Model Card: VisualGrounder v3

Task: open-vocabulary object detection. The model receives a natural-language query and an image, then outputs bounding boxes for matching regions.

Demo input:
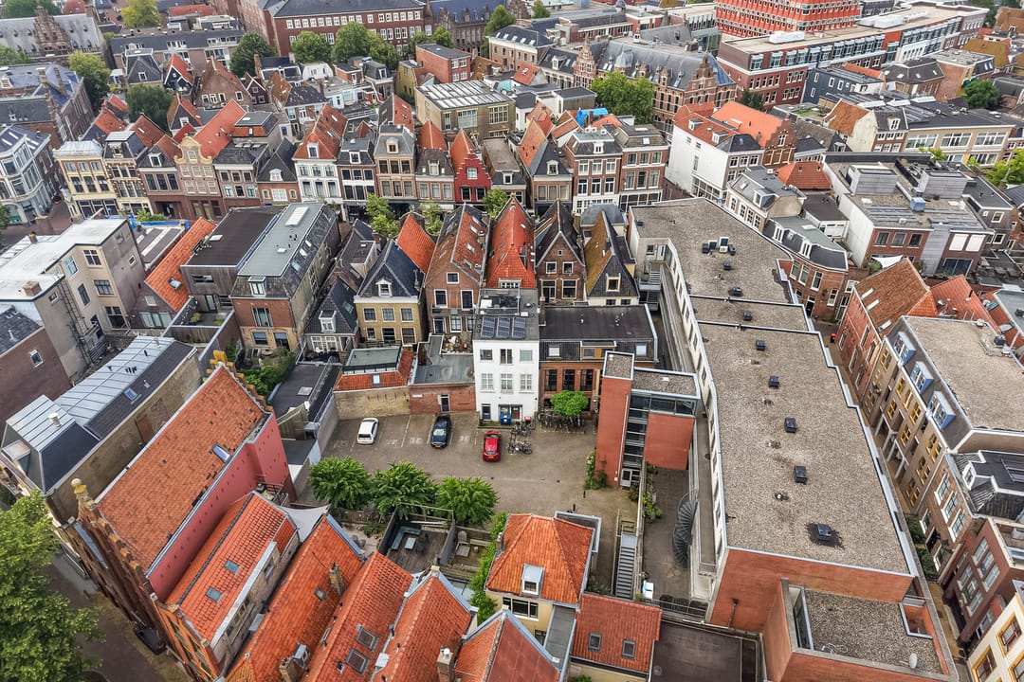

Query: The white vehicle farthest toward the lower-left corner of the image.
[351,418,379,450]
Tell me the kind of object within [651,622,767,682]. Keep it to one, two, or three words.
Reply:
building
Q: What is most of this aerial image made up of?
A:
buildings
